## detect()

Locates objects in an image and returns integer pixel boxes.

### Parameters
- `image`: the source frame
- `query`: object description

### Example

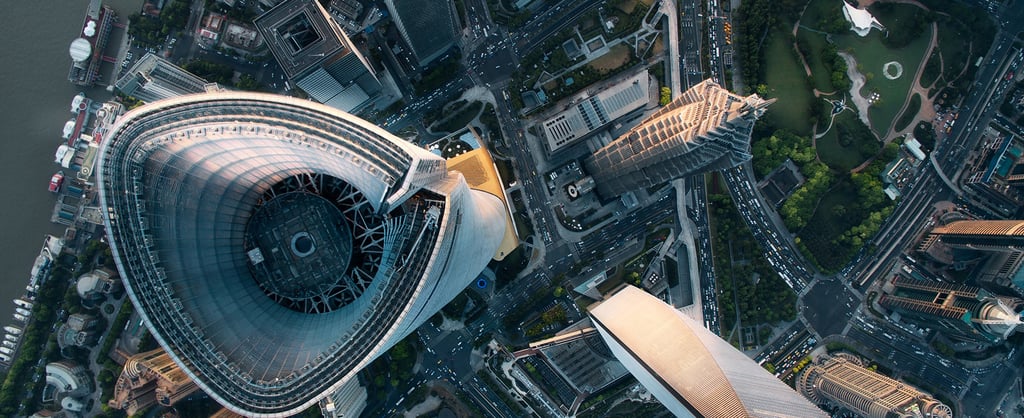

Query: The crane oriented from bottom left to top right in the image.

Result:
[391,203,442,274]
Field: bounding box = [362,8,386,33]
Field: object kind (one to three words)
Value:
building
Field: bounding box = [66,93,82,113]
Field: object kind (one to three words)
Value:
ship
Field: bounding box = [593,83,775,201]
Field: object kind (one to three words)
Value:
building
